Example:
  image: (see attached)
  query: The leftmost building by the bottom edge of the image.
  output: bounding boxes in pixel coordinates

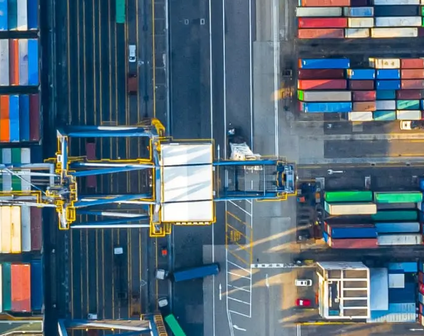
[317,261,370,320]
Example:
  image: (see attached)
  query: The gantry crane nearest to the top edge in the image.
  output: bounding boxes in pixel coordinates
[0,109,300,236]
